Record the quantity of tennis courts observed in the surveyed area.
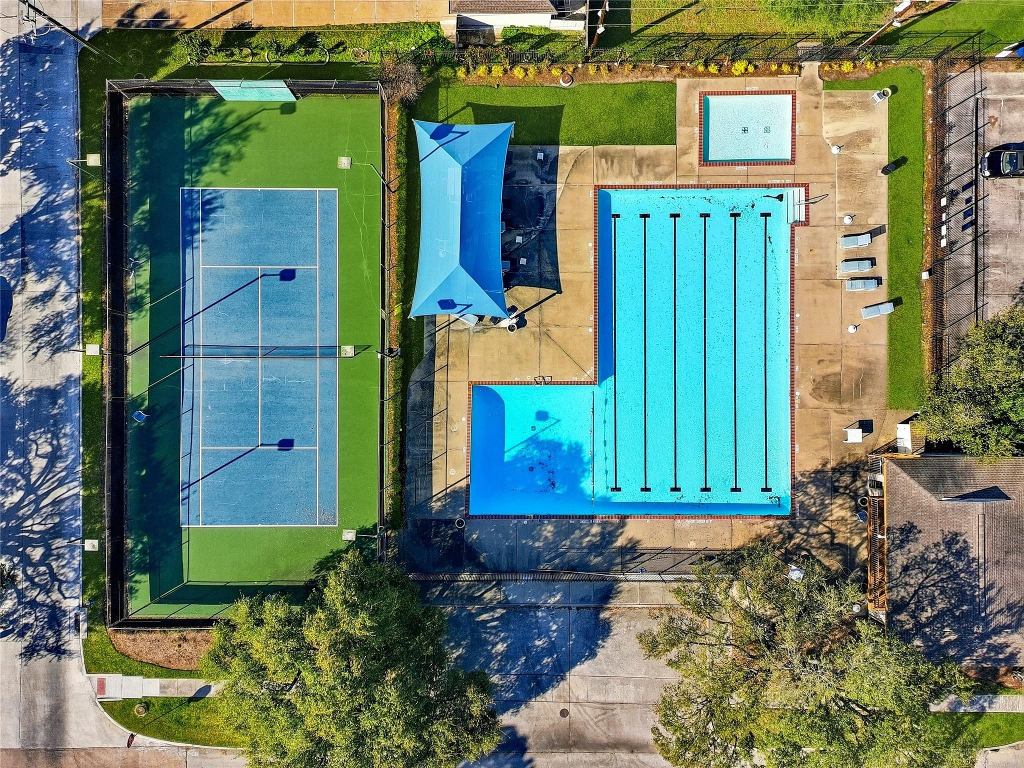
1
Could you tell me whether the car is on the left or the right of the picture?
right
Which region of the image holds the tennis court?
left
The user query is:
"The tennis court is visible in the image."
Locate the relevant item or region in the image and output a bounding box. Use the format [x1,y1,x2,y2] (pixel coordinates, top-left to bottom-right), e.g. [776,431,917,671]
[129,97,388,619]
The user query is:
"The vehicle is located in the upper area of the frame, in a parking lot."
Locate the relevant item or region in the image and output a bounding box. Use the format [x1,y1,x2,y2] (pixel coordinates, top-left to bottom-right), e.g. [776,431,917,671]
[984,146,1024,179]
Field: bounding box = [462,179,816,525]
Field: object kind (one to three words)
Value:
swimming pool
